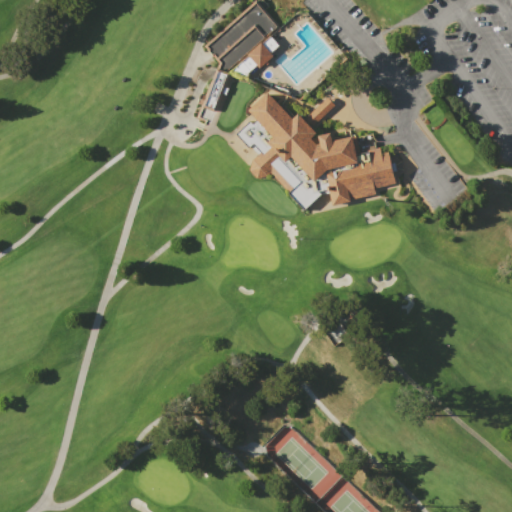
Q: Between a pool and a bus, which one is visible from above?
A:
pool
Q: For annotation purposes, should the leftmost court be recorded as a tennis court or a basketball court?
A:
tennis court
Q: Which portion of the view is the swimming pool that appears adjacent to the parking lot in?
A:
top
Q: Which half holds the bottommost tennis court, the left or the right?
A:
right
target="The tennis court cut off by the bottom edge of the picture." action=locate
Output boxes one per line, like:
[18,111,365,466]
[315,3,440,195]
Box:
[318,478,376,512]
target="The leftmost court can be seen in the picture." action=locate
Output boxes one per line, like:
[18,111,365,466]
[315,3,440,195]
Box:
[264,424,341,502]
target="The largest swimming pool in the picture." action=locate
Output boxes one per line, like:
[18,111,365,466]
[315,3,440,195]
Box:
[259,14,340,96]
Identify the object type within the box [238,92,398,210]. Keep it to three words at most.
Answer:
building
